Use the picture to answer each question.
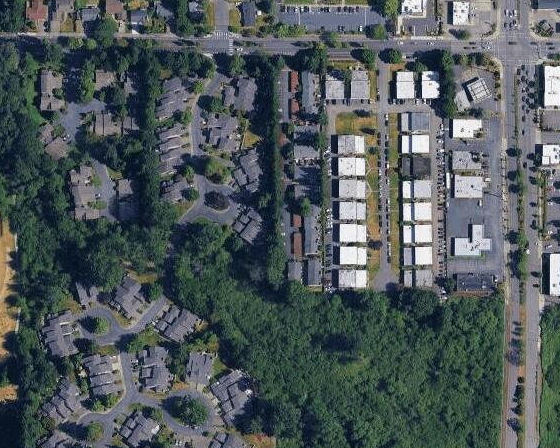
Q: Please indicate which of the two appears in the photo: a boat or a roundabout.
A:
roundabout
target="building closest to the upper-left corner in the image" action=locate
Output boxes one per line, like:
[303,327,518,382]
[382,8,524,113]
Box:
[26,0,48,20]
